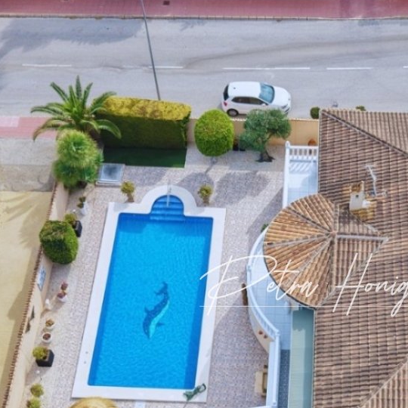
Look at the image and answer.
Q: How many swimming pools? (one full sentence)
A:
My tally gives 1 swimming pool in this photo.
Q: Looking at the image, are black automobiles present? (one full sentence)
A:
No, there is no black automobile in the image.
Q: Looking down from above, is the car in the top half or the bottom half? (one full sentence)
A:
Seen from above, the car lies in the top half of the view.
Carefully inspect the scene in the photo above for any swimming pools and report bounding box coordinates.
[71,172,226,402]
